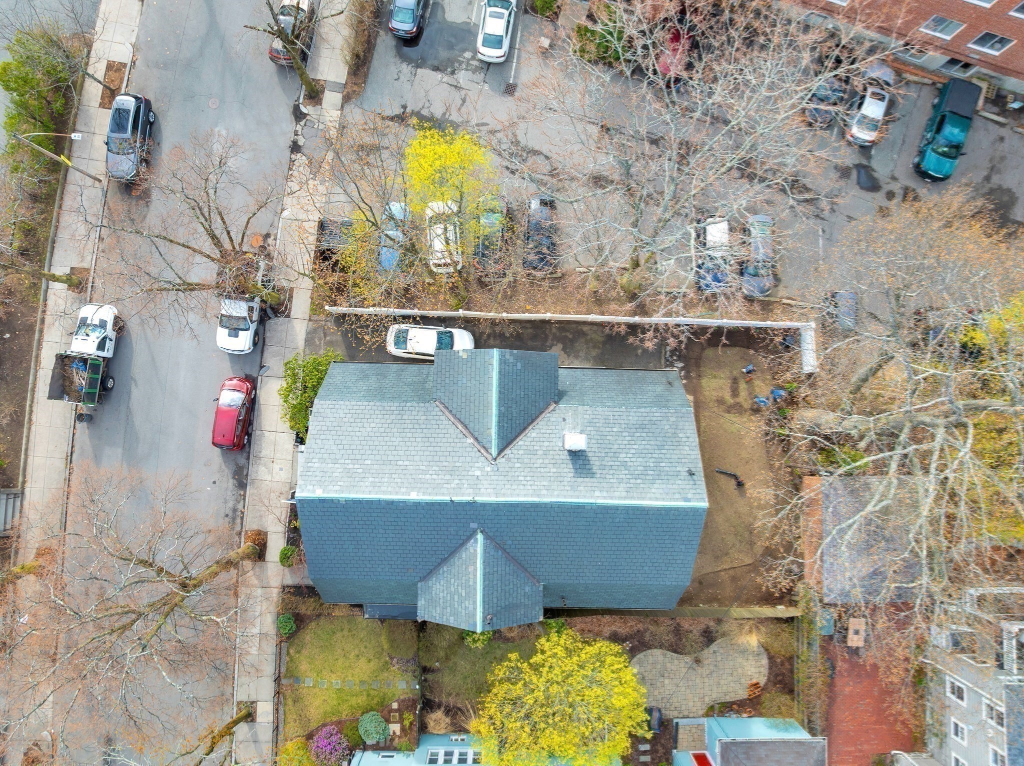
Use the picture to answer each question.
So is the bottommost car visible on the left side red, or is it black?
red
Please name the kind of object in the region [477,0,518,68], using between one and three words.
car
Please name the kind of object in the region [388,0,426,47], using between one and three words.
car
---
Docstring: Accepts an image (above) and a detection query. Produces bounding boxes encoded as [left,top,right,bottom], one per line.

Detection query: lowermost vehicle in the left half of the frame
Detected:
[211,376,256,452]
